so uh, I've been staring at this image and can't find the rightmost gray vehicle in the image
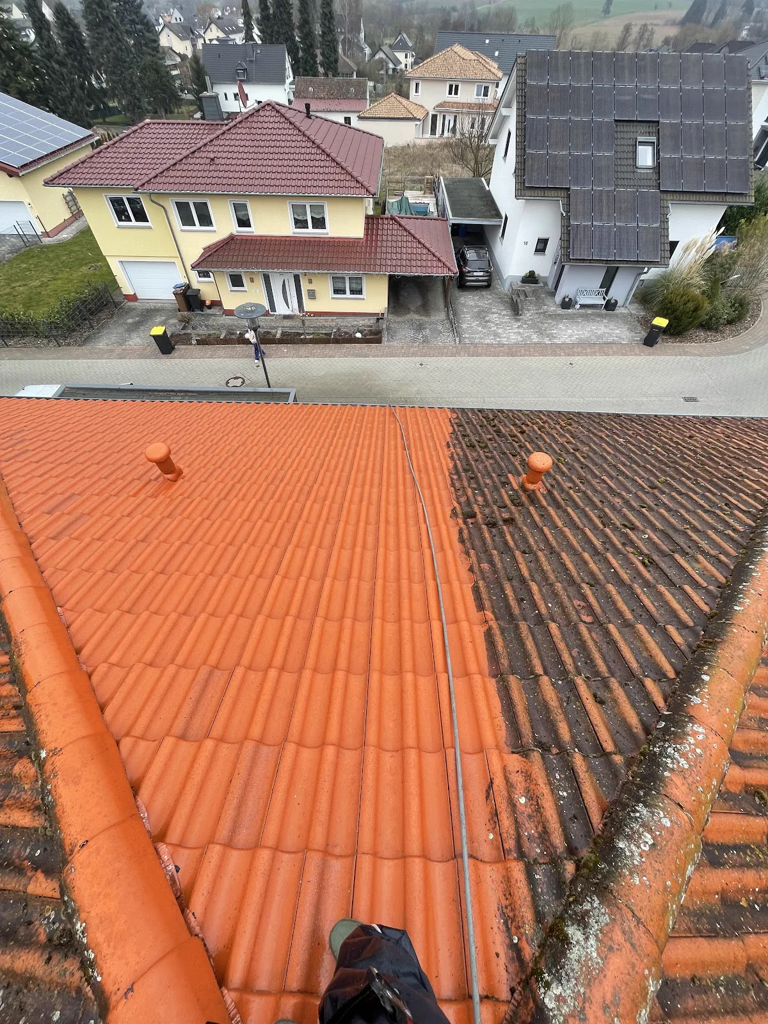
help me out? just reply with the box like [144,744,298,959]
[457,244,493,282]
